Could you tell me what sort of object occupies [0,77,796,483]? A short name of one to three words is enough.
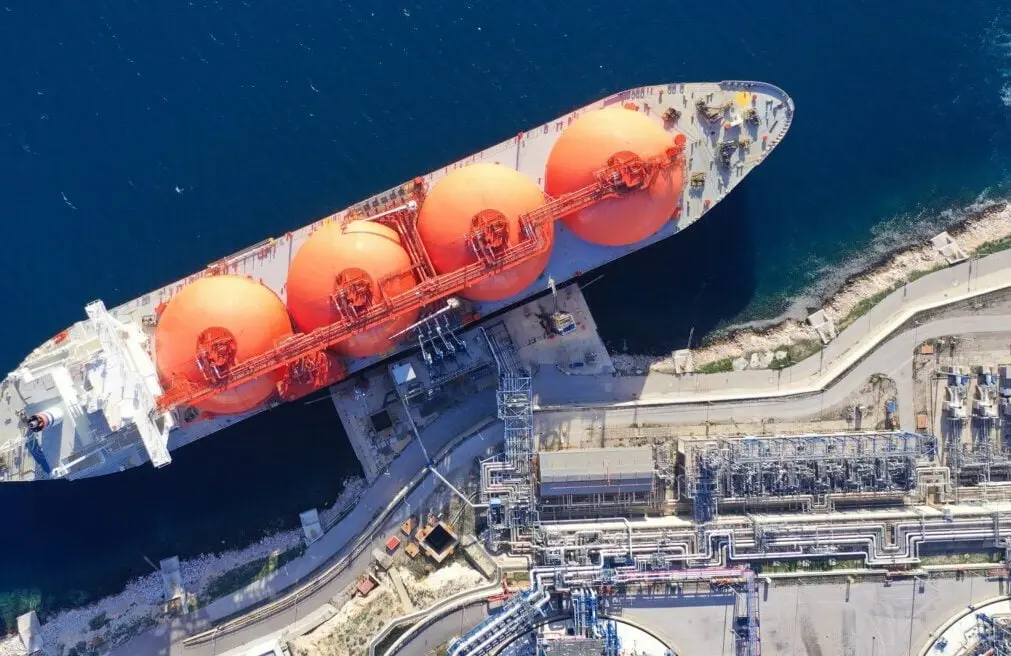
ship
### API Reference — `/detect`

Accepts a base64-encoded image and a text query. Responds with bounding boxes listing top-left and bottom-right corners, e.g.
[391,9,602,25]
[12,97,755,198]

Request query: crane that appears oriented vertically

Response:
[550,279,573,335]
